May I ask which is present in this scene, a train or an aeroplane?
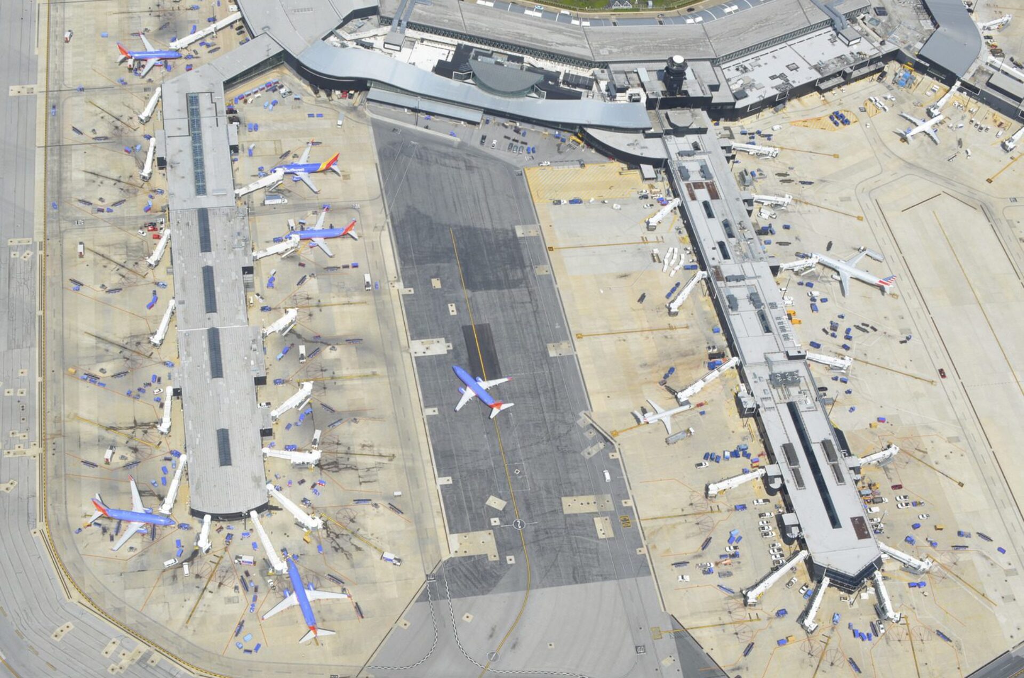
aeroplane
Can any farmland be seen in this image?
No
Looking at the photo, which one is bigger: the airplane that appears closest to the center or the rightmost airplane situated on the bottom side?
the airplane that appears closest to the center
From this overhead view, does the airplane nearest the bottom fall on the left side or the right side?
left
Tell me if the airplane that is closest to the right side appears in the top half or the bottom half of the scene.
top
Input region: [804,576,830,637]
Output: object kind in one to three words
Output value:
jet bridge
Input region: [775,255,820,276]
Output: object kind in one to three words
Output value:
jet bridge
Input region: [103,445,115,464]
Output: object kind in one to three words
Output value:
vehicle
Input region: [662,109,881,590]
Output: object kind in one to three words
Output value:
building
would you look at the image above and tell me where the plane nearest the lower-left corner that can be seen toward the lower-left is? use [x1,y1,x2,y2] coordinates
[88,476,176,551]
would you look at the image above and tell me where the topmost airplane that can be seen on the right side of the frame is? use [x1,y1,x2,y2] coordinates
[900,112,944,141]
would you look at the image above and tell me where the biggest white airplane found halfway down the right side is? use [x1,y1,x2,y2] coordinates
[809,251,895,293]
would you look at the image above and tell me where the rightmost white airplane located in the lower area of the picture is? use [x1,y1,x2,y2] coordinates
[639,399,694,433]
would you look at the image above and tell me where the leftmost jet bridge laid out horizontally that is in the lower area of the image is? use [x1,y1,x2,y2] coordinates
[262,447,326,468]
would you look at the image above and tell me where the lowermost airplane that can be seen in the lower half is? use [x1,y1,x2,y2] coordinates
[261,560,350,643]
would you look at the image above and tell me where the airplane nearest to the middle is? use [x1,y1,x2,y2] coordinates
[452,367,515,418]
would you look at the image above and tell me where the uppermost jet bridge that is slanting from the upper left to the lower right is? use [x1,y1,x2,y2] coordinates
[266,482,327,533]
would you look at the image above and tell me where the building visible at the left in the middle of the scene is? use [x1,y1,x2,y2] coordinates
[156,39,277,524]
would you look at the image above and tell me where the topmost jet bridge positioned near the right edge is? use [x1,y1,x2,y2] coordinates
[978,15,1011,33]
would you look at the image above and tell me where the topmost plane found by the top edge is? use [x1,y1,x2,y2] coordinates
[116,30,182,76]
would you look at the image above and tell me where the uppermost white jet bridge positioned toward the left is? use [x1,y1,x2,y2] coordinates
[168,14,238,52]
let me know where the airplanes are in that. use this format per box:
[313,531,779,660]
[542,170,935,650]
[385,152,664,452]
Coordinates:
[286,205,358,259]
[639,399,694,433]
[116,30,182,76]
[272,141,341,192]
[809,251,895,293]
[88,476,176,551]
[452,367,515,418]
[900,112,944,141]
[261,560,350,643]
